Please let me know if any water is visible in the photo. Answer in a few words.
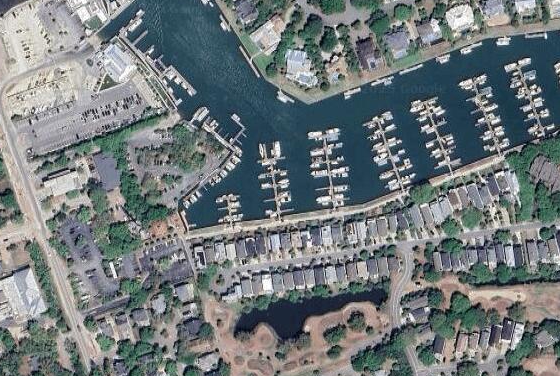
Yes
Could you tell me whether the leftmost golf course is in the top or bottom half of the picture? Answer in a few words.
bottom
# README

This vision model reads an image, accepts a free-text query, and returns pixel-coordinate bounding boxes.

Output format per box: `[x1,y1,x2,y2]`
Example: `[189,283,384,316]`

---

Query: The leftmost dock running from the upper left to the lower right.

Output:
[114,15,193,99]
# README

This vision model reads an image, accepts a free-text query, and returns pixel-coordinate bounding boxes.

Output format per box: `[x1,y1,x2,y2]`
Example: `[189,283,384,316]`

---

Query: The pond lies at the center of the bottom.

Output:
[235,288,388,340]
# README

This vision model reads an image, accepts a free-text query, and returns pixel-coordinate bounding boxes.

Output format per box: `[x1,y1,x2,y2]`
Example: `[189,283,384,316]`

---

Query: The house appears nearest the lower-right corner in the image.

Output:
[533,330,556,354]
